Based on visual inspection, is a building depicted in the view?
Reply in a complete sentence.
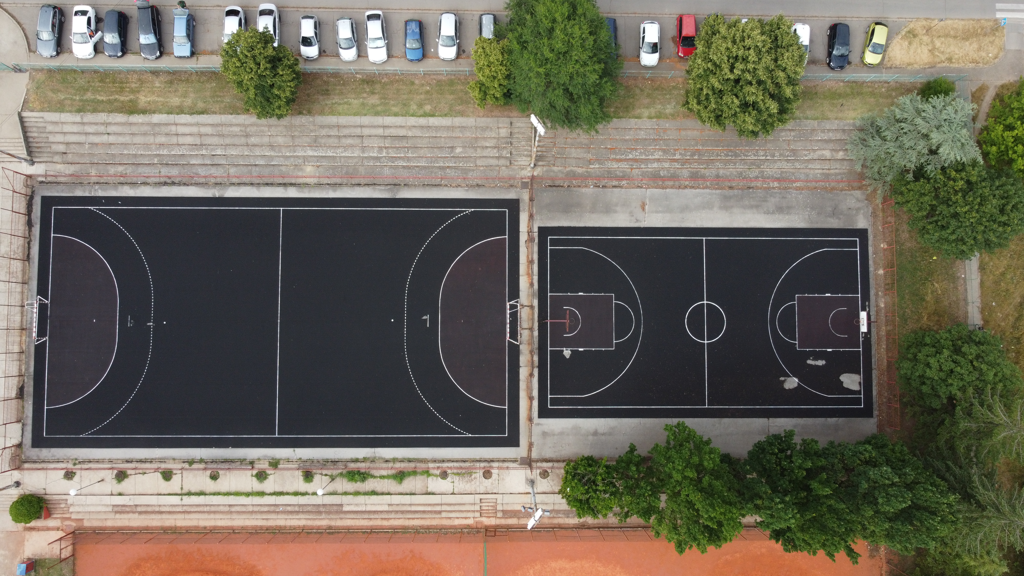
No, the photo shows no building.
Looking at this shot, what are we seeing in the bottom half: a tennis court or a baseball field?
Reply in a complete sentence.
What appears in the bottom half is a tennis court.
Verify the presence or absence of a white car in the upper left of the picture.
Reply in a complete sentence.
Yes, a white car appears in the upper left of the picture.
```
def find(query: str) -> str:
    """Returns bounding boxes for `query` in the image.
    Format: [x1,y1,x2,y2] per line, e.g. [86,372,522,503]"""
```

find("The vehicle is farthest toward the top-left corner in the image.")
[32,4,66,57]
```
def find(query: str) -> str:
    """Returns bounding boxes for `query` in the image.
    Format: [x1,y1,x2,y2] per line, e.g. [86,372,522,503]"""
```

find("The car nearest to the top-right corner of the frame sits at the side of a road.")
[860,18,891,67]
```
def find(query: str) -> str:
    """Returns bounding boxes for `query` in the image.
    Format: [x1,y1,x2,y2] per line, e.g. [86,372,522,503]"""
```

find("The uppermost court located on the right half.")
[538,227,873,418]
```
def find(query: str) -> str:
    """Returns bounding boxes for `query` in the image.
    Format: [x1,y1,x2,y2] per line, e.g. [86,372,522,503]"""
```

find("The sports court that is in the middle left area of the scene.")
[31,196,519,448]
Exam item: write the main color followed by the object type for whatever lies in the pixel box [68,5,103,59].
white car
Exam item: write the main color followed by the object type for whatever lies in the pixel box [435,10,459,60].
white car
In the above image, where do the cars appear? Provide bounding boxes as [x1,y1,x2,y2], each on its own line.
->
[677,12,700,58]
[100,8,130,58]
[638,18,662,66]
[824,20,852,70]
[257,6,281,43]
[787,19,813,66]
[402,16,426,62]
[860,18,891,67]
[131,0,165,60]
[296,12,322,59]
[219,8,245,48]
[32,4,66,57]
[68,5,103,59]
[335,13,360,61]
[475,14,497,44]
[169,9,196,58]
[435,10,459,60]
[364,9,389,63]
